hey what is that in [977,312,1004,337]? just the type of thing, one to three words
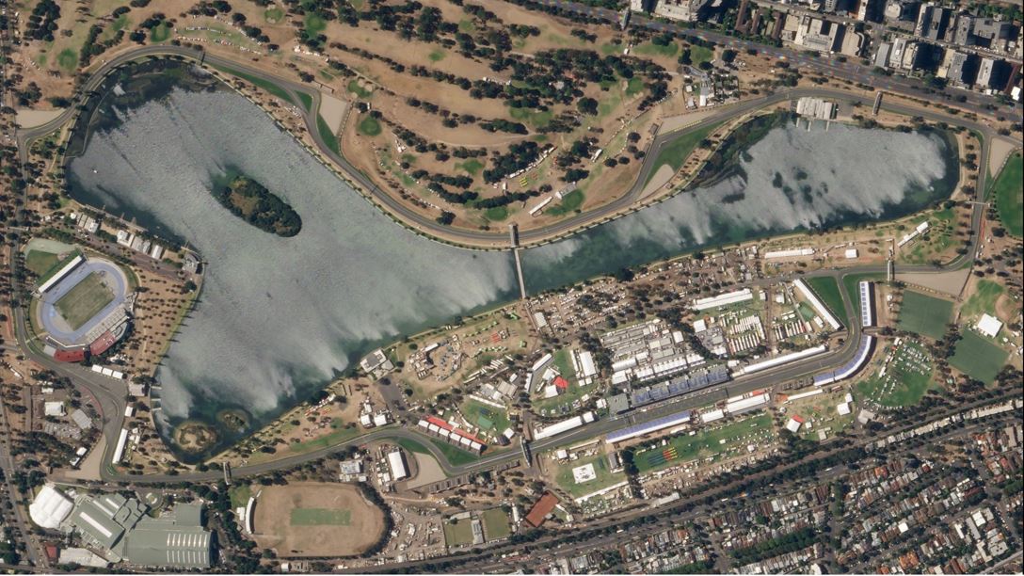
building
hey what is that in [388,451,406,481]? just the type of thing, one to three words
tent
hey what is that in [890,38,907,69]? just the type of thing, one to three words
building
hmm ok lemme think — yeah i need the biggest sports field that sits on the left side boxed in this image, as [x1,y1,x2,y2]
[250,482,384,558]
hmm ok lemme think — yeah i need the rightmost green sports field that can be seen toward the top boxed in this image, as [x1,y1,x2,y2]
[995,152,1024,235]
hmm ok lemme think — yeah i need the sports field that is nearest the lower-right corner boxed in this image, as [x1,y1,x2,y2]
[948,330,1009,387]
